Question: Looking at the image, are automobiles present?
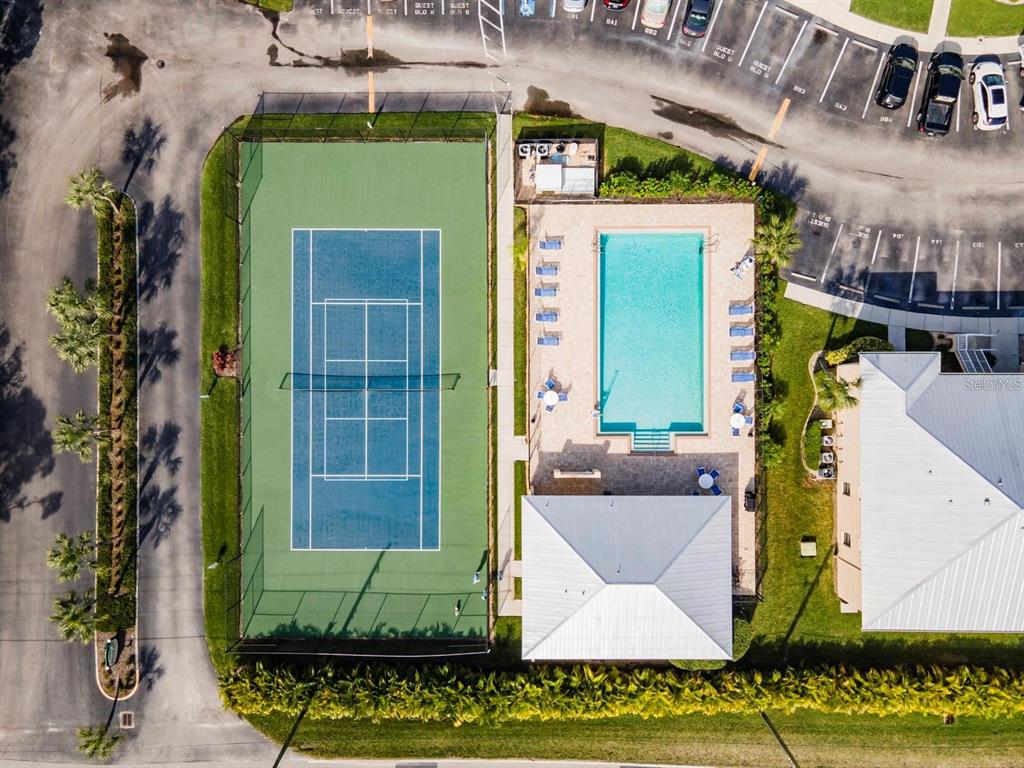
Yes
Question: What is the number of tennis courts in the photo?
1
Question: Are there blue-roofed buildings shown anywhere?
No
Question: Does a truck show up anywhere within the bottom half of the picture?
No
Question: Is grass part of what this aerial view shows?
Yes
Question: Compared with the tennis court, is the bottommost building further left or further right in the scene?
to its right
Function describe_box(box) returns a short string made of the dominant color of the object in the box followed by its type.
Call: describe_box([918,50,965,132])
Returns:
black truck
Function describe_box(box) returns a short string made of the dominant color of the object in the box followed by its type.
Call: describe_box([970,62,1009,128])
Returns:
white car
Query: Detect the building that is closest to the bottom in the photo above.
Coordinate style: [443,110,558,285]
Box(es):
[521,495,733,662]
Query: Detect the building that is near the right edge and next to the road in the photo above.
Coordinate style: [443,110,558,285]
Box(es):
[834,352,1024,634]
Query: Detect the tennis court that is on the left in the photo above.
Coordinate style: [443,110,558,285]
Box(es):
[241,141,488,639]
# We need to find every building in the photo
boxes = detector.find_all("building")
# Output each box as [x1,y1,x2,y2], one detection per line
[536,165,561,194]
[564,168,594,194]
[521,495,733,662]
[834,352,1024,634]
